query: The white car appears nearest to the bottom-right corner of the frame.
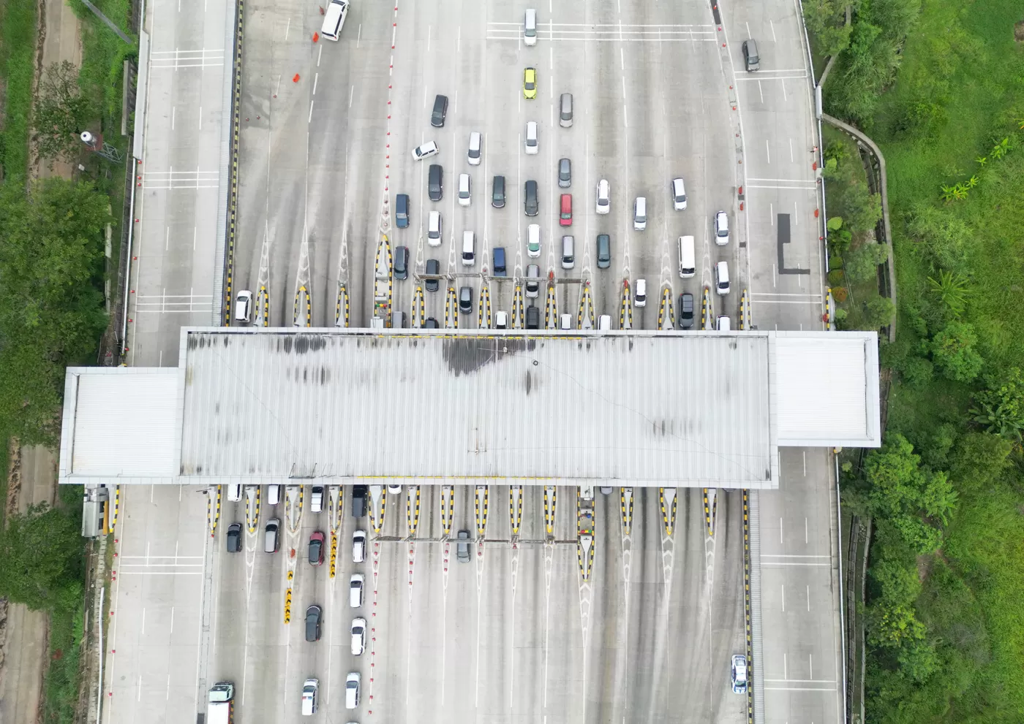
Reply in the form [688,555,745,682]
[730,655,749,693]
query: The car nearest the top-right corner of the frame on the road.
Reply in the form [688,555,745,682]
[741,40,760,72]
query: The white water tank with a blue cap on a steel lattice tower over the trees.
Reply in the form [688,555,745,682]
[82,131,129,168]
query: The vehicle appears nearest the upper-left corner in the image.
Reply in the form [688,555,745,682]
[321,0,349,42]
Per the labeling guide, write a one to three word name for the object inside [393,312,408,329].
vehicle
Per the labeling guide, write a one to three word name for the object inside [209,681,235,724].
truck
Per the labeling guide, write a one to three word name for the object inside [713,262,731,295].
car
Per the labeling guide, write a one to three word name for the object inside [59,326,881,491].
toll station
